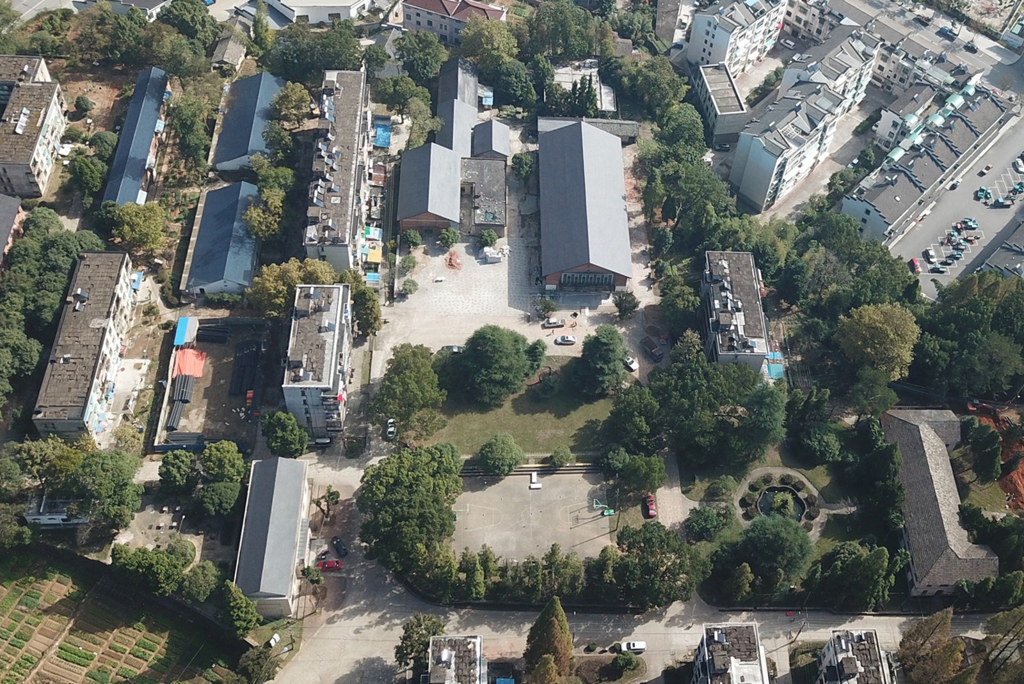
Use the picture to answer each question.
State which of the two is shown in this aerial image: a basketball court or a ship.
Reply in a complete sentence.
I can see a basketball court in this picture.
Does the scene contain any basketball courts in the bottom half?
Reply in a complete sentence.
Yes, you'll find a basketball court in the bottom half.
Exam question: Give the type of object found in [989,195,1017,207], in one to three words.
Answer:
vehicle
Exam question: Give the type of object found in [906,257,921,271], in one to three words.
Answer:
car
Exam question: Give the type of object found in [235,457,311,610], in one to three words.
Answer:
house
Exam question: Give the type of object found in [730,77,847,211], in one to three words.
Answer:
building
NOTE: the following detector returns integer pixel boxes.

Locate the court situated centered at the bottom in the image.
[450,474,618,555]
